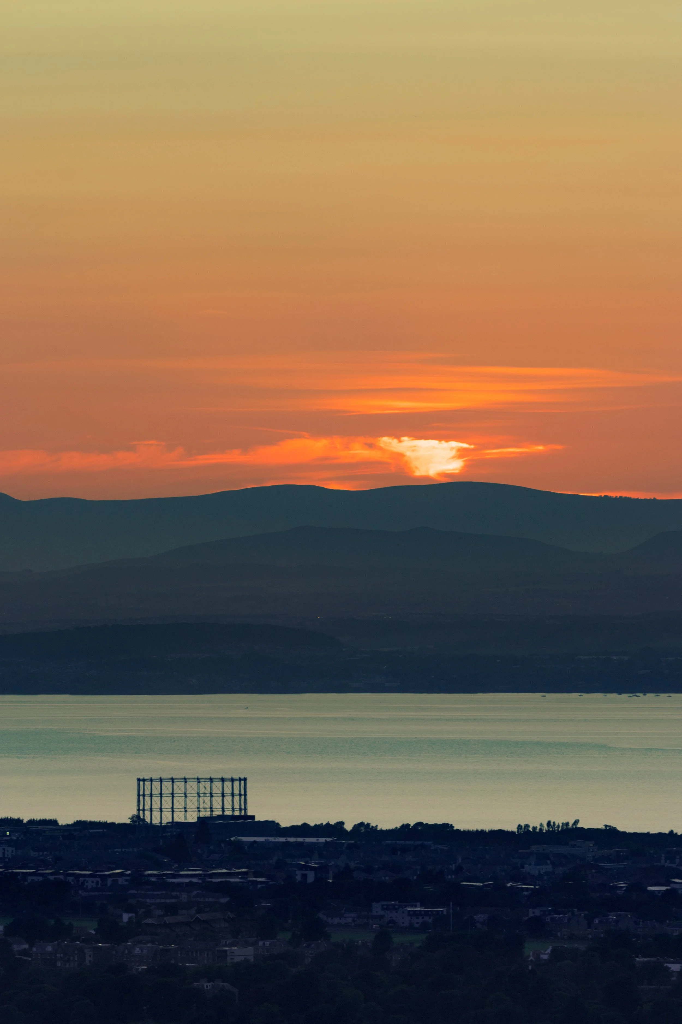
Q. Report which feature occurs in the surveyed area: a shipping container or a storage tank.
storage tank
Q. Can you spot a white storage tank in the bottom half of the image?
No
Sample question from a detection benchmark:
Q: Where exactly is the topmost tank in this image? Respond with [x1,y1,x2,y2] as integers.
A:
[137,775,248,831]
